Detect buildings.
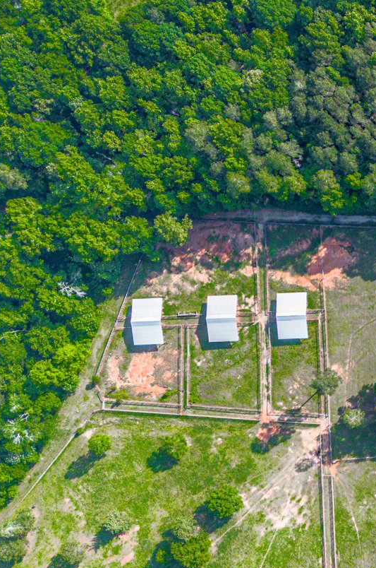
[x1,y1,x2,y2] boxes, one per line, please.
[206,294,240,342]
[130,298,166,345]
[276,292,309,339]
